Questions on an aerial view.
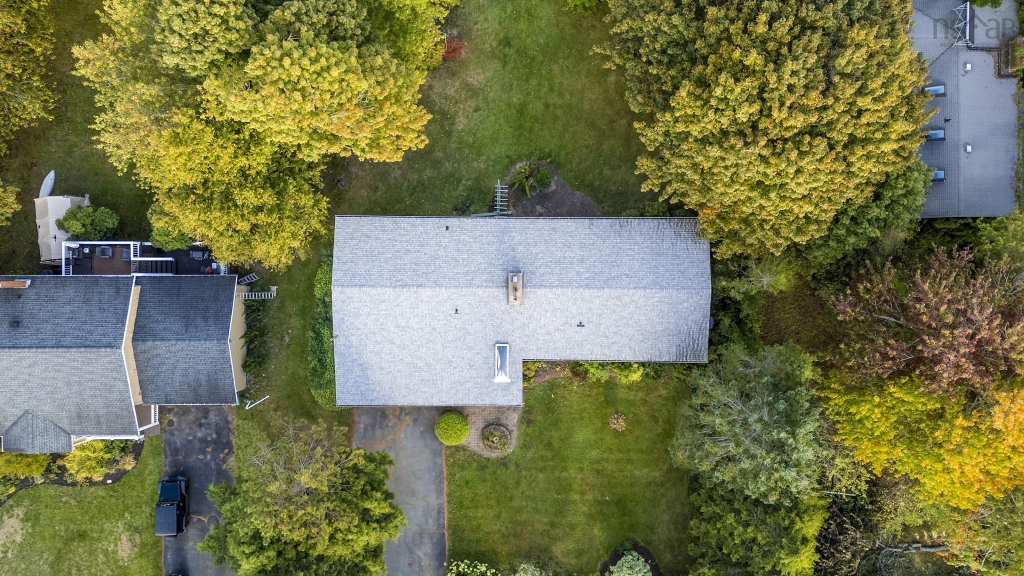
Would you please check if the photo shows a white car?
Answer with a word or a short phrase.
No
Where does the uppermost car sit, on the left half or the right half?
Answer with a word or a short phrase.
left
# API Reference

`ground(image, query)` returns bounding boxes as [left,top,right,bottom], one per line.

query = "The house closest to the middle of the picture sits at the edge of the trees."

[331,215,712,407]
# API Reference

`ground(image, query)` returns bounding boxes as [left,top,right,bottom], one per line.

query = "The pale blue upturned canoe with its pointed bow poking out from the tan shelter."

[42,170,59,198]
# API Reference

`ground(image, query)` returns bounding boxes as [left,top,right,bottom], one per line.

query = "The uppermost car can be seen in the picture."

[154,477,192,543]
